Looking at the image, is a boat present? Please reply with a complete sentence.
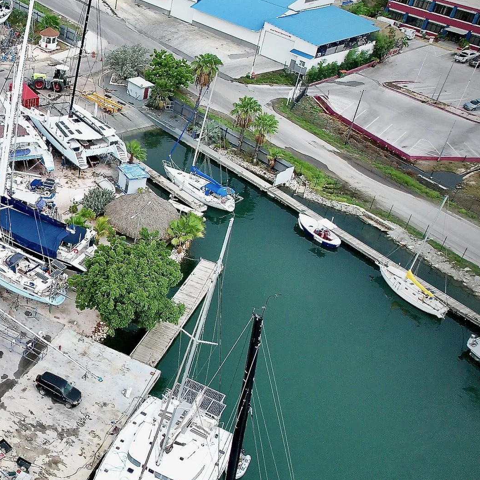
Yes, the frame does contain a boat.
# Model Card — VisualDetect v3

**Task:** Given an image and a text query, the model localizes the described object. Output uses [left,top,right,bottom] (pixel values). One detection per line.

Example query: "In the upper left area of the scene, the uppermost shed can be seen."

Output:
[33,29,64,57]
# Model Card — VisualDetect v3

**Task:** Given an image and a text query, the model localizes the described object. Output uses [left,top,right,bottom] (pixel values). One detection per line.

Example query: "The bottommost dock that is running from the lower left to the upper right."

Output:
[132,258,223,368]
